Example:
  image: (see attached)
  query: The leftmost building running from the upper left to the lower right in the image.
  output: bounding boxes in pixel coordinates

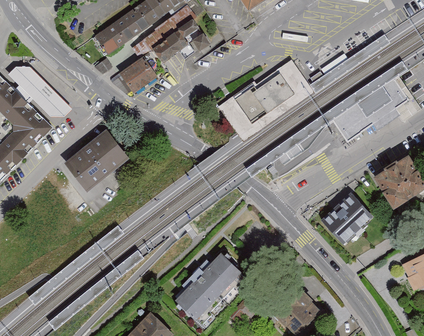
[10,66,72,116]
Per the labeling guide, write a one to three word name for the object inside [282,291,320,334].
house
